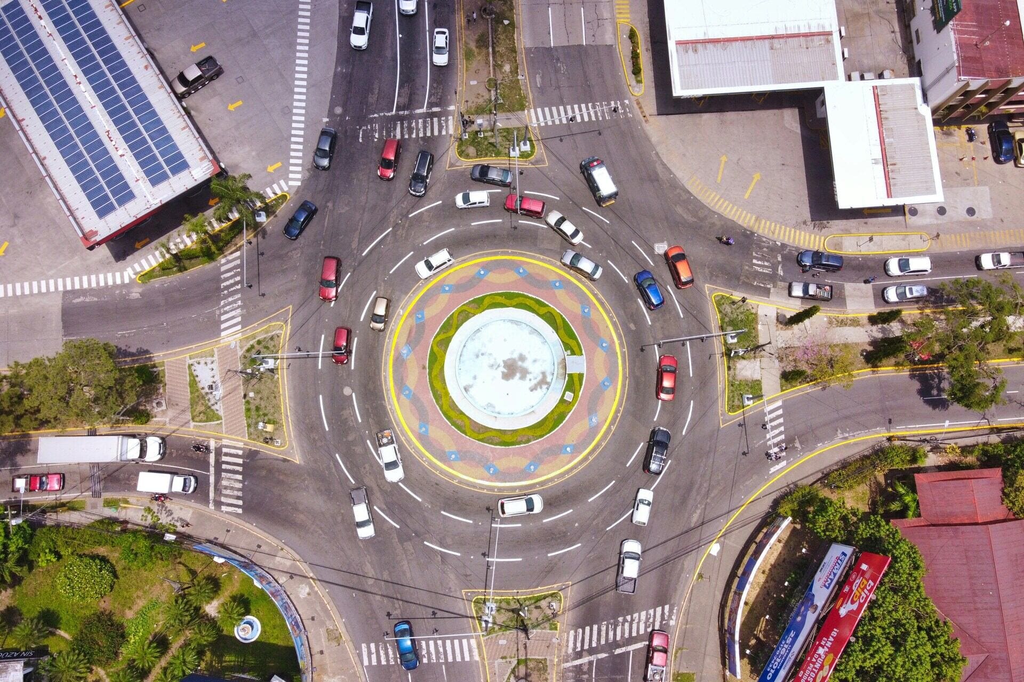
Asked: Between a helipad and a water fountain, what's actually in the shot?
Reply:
water fountain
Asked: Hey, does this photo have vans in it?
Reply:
Yes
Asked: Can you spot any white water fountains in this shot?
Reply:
Yes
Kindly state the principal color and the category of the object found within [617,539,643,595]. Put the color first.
white truck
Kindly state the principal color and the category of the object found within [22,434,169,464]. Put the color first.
white truck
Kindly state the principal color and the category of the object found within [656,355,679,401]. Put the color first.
red car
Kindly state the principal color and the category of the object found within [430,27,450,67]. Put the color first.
white car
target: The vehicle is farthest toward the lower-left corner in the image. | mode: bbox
[9,471,67,495]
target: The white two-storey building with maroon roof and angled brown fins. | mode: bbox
[903,0,1024,122]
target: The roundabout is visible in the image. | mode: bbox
[382,251,630,498]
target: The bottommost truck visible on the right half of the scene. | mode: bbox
[644,630,672,682]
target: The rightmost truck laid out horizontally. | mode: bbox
[973,249,1024,272]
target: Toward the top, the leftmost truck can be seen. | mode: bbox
[170,53,227,96]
